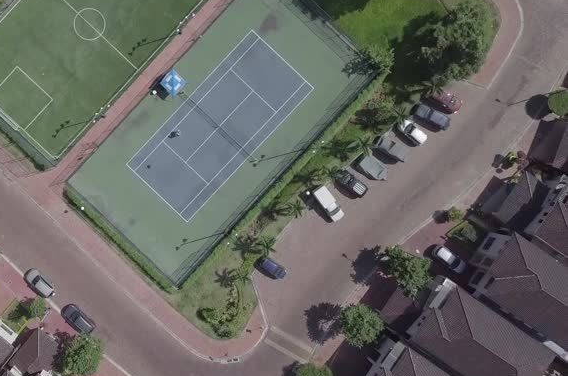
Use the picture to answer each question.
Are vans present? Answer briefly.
Yes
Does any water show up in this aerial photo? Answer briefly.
No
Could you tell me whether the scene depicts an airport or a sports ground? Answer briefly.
sports ground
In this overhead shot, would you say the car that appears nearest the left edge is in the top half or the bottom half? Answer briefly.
bottom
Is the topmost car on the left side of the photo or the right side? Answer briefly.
right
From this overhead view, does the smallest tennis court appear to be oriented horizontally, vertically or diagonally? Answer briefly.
diagonally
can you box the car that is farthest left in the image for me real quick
[23,266,56,299]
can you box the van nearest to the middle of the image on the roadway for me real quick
[314,185,344,221]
